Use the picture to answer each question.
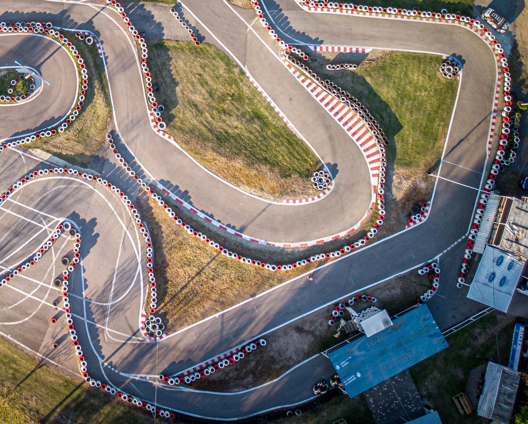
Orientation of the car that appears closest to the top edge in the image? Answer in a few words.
at an angle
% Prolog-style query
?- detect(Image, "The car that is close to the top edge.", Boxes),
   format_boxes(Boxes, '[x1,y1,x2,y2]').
[476,6,509,33]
